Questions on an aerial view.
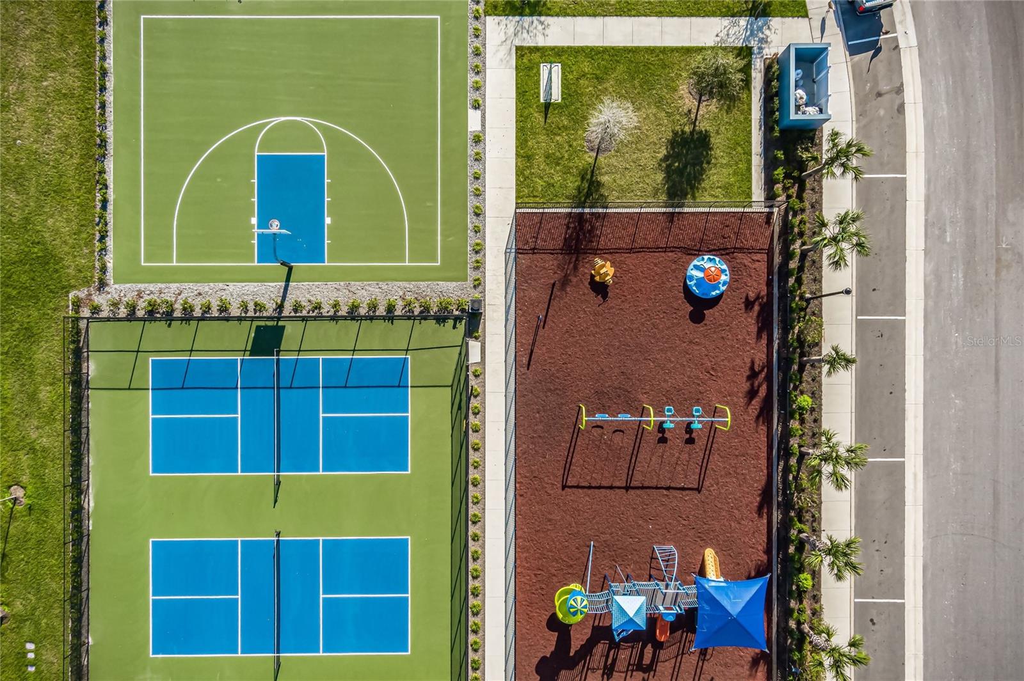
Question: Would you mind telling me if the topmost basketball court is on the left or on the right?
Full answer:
The topmost basketball court appears in the left half of the scene.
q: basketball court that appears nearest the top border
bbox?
[112,0,469,284]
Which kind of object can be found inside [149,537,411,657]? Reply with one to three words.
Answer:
sports court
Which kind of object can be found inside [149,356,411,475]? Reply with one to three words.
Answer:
sports court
